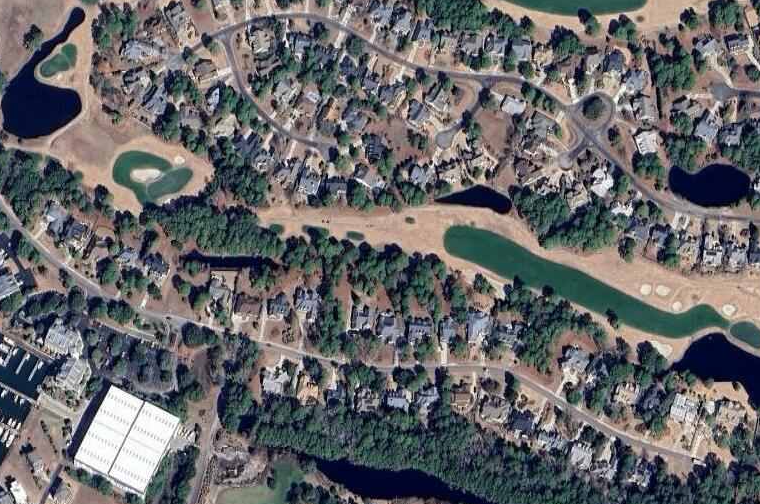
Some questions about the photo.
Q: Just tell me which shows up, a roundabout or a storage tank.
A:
roundabout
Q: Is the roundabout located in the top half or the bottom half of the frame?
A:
top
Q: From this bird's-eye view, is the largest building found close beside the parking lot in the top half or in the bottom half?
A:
bottom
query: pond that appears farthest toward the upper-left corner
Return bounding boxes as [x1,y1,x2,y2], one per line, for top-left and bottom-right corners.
[0,7,85,139]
